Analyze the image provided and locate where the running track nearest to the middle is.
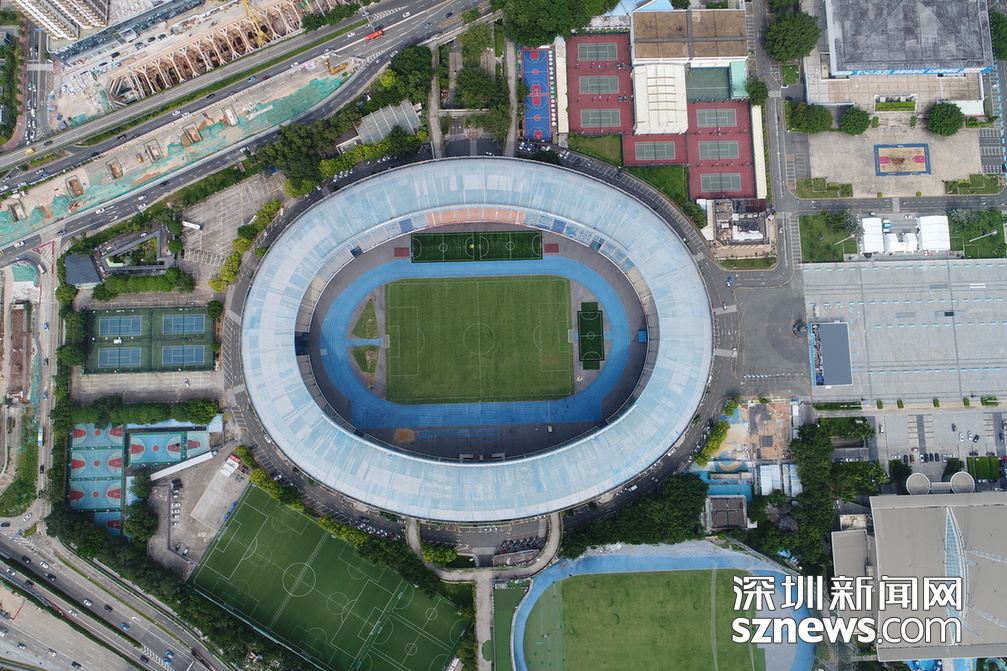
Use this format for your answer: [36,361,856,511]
[321,256,629,428]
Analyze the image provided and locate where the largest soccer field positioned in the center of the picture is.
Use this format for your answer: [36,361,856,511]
[385,275,574,404]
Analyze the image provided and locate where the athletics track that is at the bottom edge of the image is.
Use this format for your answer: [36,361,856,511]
[509,553,818,671]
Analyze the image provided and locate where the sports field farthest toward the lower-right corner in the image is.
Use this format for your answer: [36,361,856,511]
[562,571,757,671]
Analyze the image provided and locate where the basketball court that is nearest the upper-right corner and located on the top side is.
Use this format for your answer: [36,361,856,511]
[874,143,931,176]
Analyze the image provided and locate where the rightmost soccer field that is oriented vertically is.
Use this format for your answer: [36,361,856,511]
[577,302,604,370]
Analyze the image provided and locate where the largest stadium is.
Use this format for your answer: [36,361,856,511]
[239,155,715,524]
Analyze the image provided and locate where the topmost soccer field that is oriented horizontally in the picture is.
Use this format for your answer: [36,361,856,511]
[411,230,543,264]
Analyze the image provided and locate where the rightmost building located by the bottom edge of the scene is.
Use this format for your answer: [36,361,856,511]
[861,489,1007,662]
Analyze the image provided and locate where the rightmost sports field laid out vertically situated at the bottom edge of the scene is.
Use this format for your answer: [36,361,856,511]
[493,588,524,671]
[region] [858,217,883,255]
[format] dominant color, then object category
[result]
white tent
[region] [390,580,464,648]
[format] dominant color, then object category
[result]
green soccer field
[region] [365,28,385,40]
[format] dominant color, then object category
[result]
red vehicle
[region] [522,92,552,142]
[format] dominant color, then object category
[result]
blue basketball court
